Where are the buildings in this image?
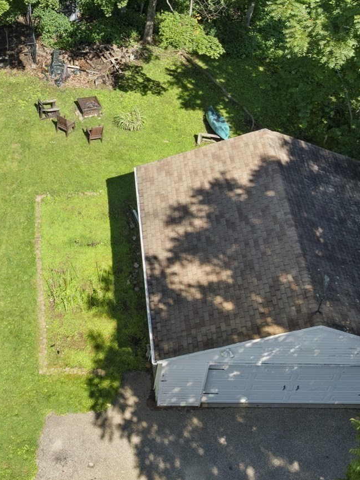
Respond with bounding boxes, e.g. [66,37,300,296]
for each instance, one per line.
[132,128,360,408]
